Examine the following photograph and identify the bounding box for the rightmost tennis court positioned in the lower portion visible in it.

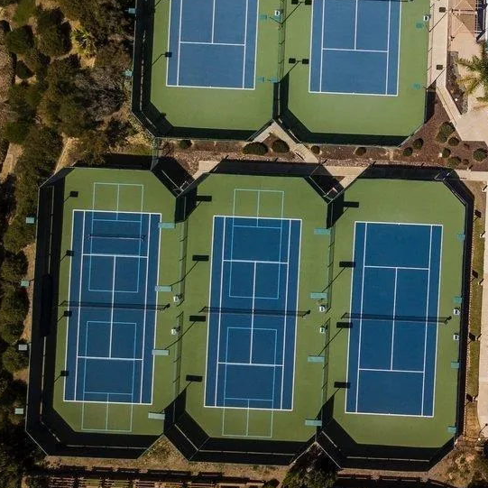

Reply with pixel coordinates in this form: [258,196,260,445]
[321,178,465,459]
